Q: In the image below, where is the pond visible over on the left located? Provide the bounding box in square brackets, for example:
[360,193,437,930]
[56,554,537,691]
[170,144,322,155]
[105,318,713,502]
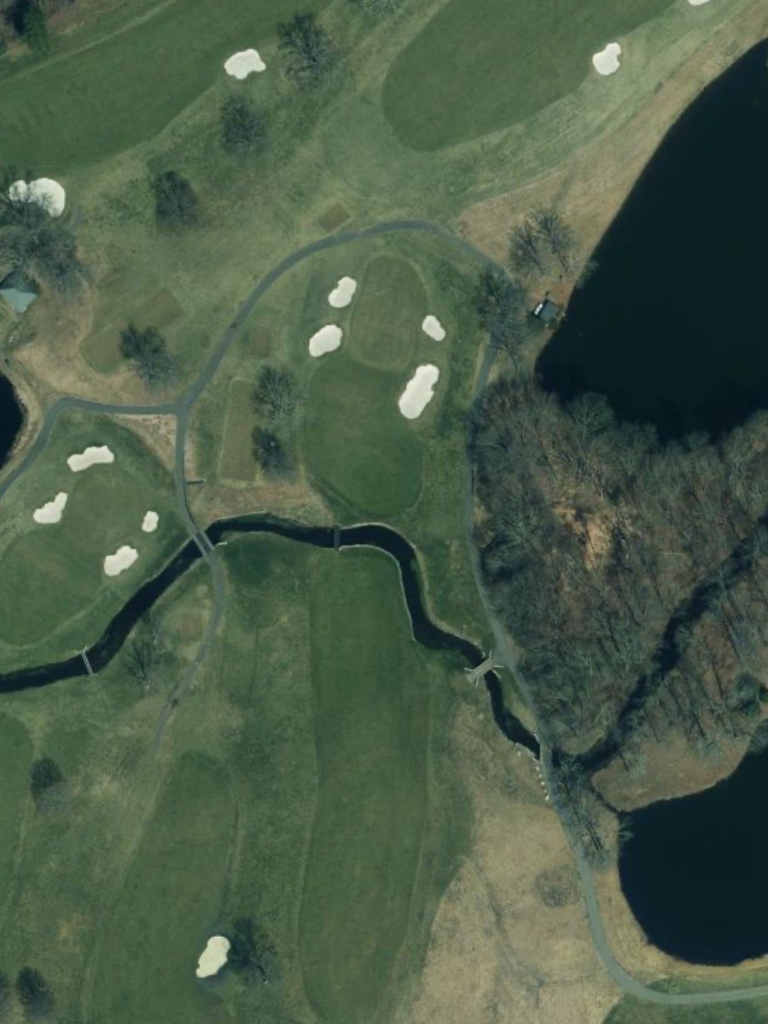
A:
[0,370,25,471]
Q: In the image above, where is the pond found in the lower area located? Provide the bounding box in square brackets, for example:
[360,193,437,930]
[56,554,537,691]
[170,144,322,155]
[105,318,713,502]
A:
[617,728,768,965]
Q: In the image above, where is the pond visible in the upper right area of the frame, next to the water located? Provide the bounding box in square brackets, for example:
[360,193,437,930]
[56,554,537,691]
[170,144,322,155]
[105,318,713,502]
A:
[536,39,768,458]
